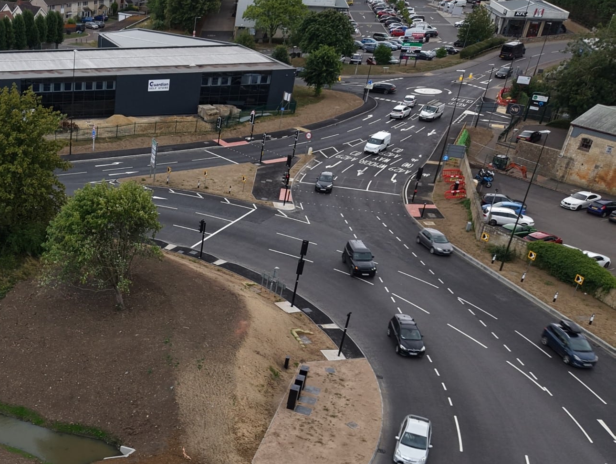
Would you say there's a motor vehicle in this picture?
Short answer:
Yes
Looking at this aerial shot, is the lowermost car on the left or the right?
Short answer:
right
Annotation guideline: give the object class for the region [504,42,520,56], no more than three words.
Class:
vehicle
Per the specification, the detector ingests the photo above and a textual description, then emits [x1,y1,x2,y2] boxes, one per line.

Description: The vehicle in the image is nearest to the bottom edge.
[392,417,433,464]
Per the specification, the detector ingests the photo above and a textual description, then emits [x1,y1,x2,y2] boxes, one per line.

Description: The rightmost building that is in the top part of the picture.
[556,99,616,195]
